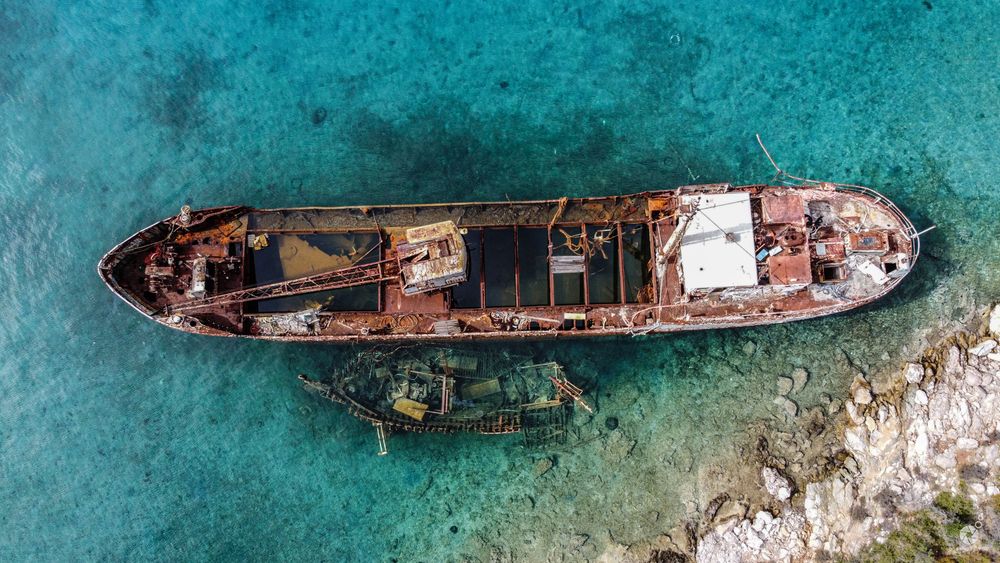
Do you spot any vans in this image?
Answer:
No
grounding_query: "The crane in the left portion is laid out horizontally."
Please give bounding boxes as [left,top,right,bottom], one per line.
[162,225,475,316]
